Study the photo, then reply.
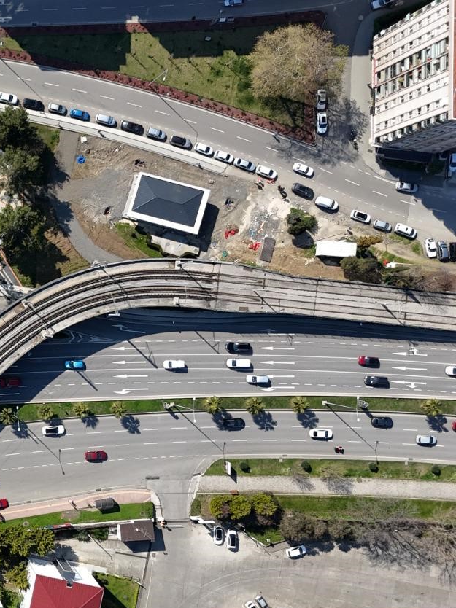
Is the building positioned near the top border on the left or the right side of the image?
right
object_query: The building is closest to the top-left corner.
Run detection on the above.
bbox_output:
[120,172,210,256]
